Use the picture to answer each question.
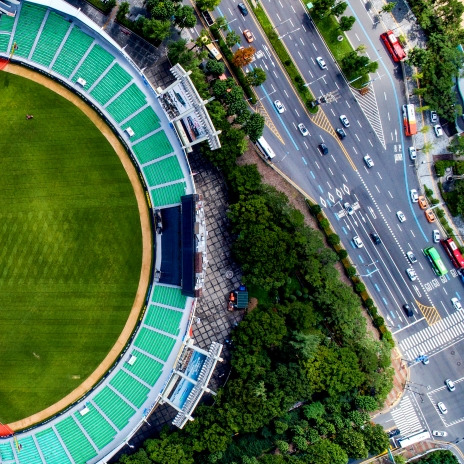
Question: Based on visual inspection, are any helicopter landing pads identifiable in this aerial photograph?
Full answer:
No, there is no helicopter landing pad in the image.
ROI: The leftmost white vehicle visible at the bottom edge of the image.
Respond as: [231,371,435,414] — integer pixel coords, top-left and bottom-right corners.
[398,431,435,449]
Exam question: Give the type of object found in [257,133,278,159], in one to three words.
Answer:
bus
